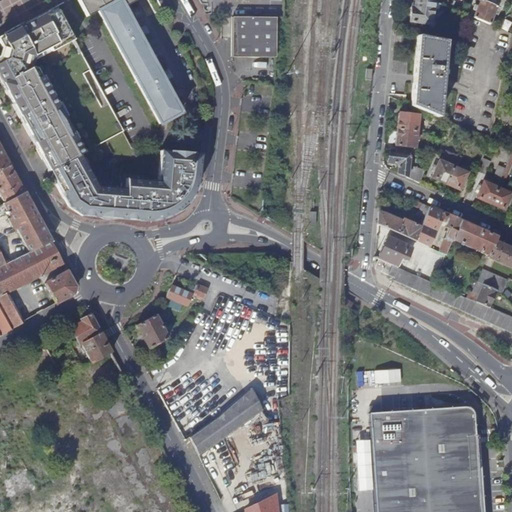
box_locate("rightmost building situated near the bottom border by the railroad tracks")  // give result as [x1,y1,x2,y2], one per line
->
[368,406,486,512]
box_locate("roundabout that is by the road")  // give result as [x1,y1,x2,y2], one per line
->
[77,226,156,302]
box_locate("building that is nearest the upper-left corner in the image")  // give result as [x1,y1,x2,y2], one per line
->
[0,4,76,64]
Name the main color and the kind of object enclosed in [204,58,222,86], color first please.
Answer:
white vehicle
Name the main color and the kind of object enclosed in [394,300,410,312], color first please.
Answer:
white vehicle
